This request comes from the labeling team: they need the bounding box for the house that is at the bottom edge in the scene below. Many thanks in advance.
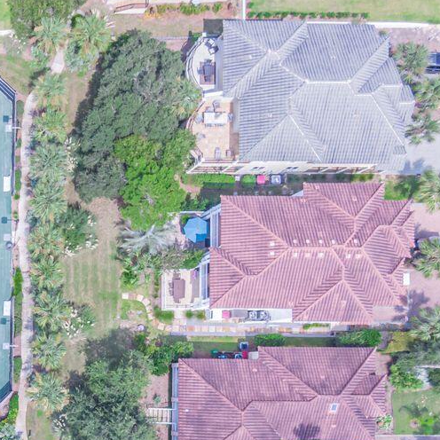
[166,346,388,440]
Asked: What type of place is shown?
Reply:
residential area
